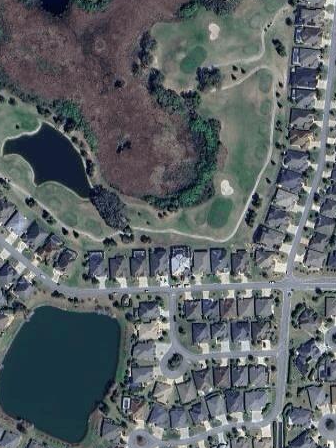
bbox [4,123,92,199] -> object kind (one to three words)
pond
